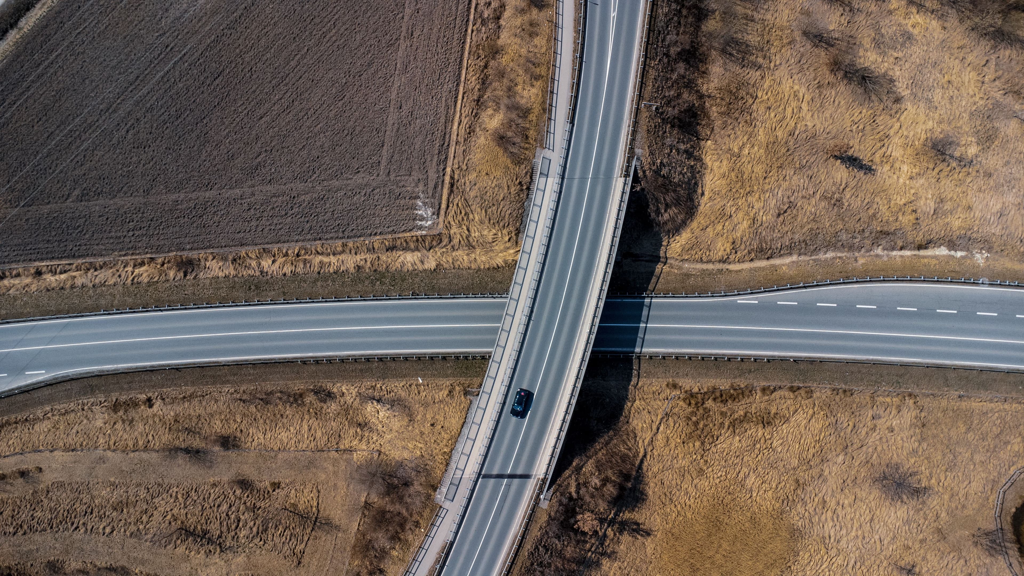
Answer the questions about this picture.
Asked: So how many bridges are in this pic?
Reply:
1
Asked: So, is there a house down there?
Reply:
No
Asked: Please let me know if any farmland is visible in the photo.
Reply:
Yes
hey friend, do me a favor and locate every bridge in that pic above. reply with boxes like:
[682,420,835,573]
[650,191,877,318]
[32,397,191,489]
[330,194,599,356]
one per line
[441,154,636,502]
